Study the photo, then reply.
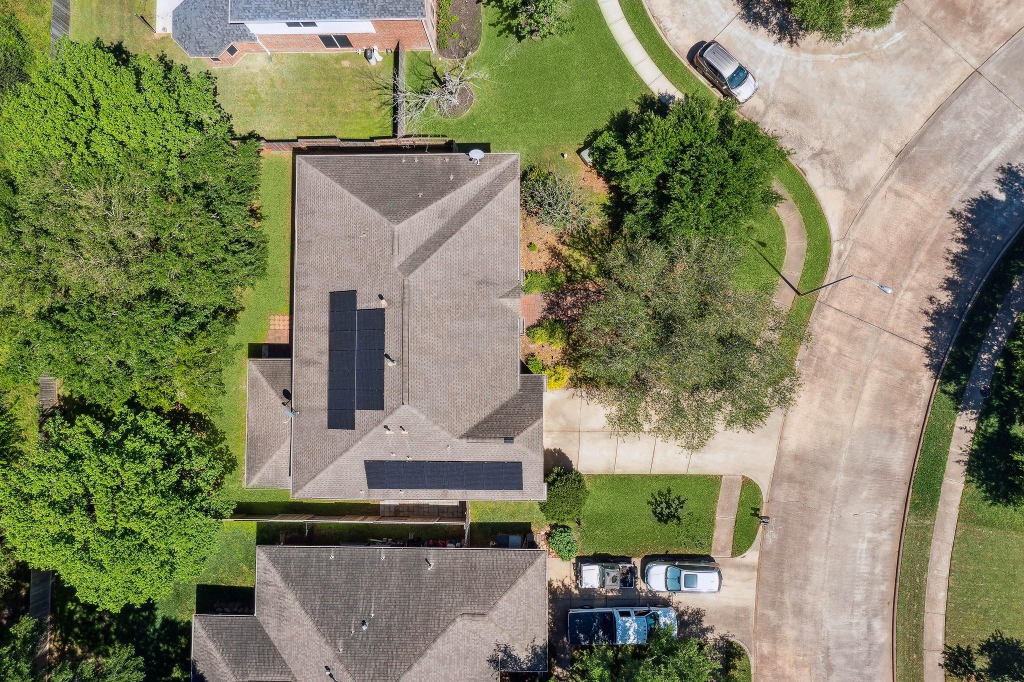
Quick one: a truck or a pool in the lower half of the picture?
truck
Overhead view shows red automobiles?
No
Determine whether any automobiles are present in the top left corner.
No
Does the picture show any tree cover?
Yes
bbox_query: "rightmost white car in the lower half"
[644,559,725,599]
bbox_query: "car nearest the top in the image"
[692,37,757,103]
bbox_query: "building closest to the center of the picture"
[243,152,548,503]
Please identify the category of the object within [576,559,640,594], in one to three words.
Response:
truck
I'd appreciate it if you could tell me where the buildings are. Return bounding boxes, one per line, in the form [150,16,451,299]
[189,545,550,682]
[243,152,548,503]
[156,0,436,67]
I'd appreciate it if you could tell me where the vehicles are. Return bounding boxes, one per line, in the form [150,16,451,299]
[567,604,680,653]
[576,559,640,594]
[692,37,757,103]
[644,559,725,599]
